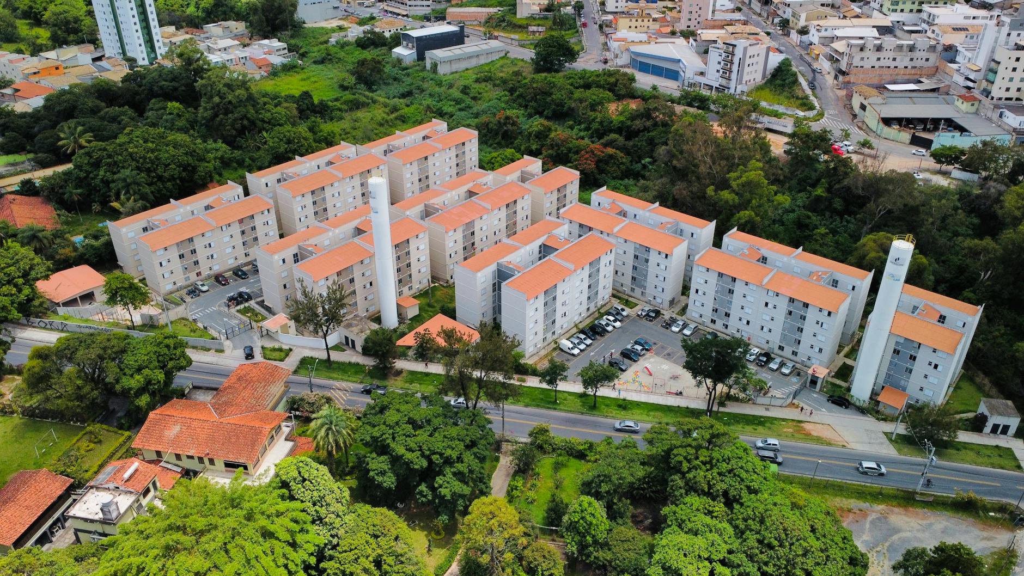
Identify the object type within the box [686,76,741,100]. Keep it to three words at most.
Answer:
building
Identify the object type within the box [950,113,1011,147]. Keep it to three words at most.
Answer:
shed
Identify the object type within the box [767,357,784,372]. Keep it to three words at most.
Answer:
car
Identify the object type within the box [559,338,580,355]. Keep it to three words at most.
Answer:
vehicle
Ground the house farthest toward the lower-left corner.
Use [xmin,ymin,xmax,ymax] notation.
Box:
[0,465,81,554]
